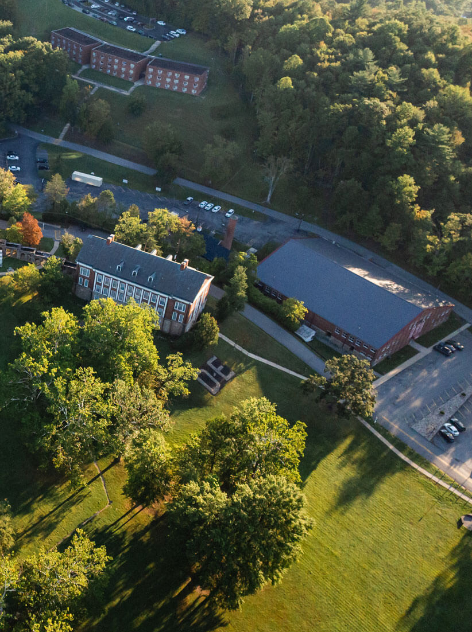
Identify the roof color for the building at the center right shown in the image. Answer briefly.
blue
